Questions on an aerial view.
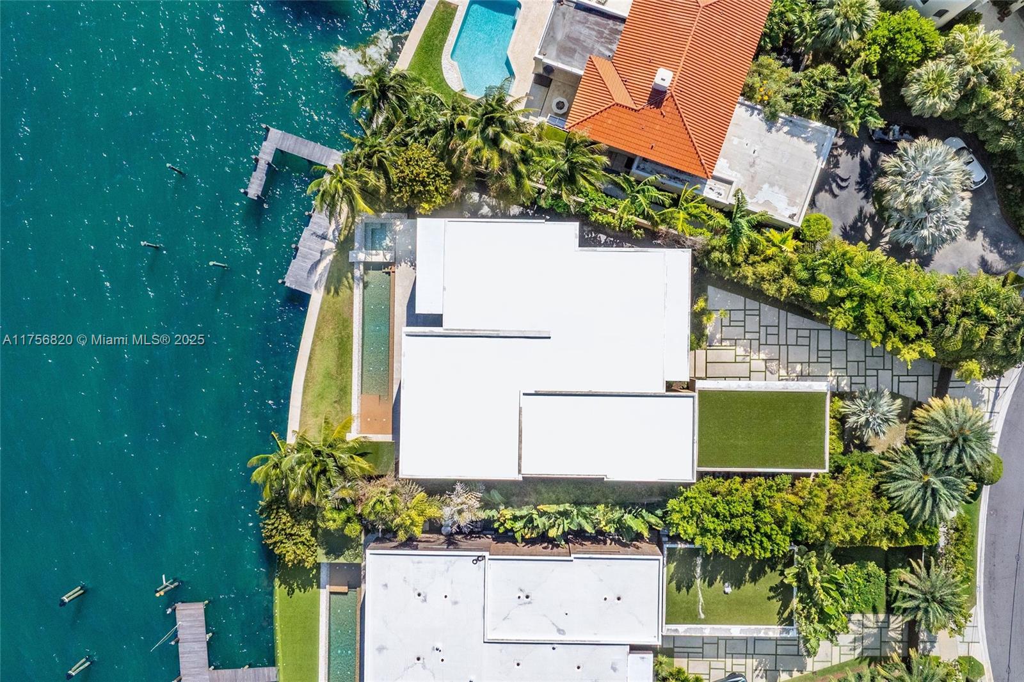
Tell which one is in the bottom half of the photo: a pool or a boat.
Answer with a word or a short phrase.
pool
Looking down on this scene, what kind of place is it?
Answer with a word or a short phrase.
residential area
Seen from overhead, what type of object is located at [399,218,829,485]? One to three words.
house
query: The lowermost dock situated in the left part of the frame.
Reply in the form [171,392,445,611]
[170,593,278,682]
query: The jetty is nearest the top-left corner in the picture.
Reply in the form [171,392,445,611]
[242,126,341,202]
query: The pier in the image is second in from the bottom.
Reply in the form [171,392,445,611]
[278,209,338,295]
